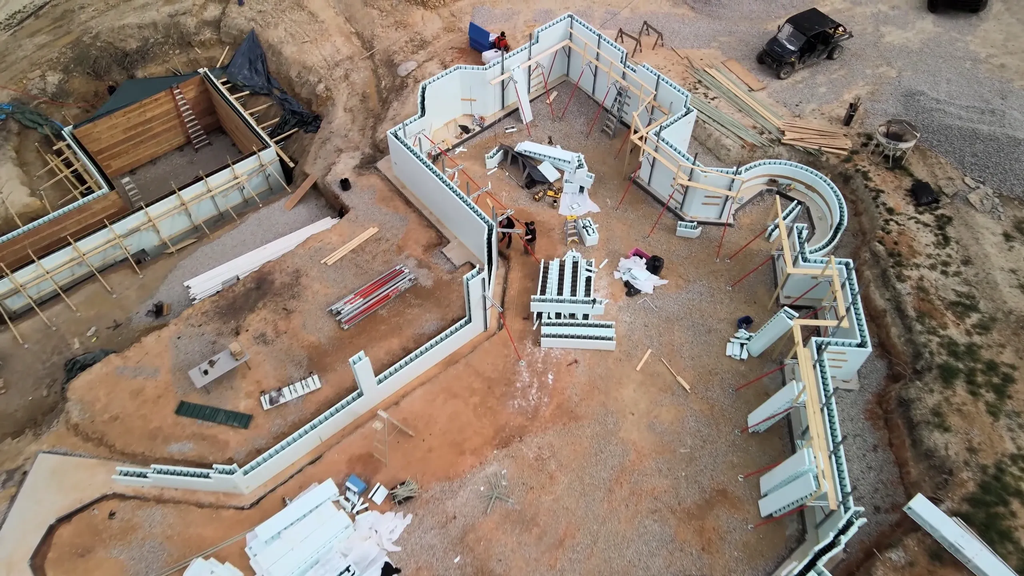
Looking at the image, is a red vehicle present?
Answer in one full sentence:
No, there is no red vehicle in the image.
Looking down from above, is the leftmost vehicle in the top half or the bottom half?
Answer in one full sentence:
You can find the leftmost vehicle in the top half.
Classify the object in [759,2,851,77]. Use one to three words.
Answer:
vehicle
